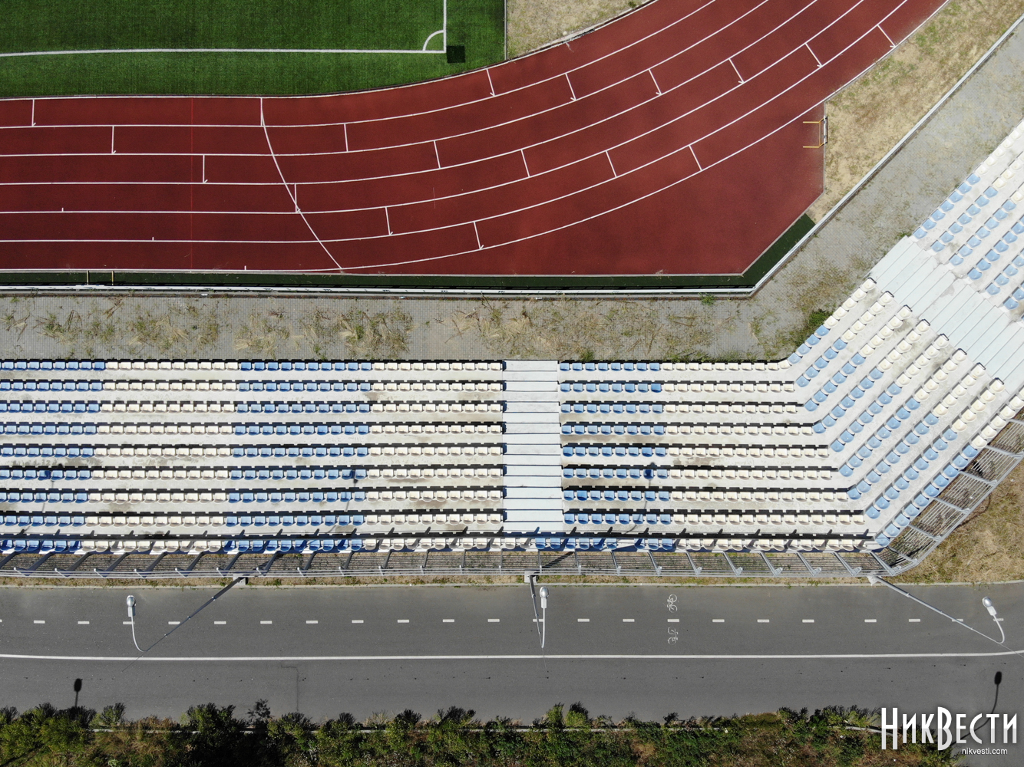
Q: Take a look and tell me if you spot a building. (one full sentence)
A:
No, there isn't any building down there.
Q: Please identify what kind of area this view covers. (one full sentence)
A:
The area seen from above is a sports ground.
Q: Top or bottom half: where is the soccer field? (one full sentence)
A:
The soccer field is in the top half of the image.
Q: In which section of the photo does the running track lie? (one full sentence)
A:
Look in the top portion of the view to spot the running track.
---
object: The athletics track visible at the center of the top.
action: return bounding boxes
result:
[0,0,956,277]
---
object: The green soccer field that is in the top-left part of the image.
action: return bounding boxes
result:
[0,0,508,94]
